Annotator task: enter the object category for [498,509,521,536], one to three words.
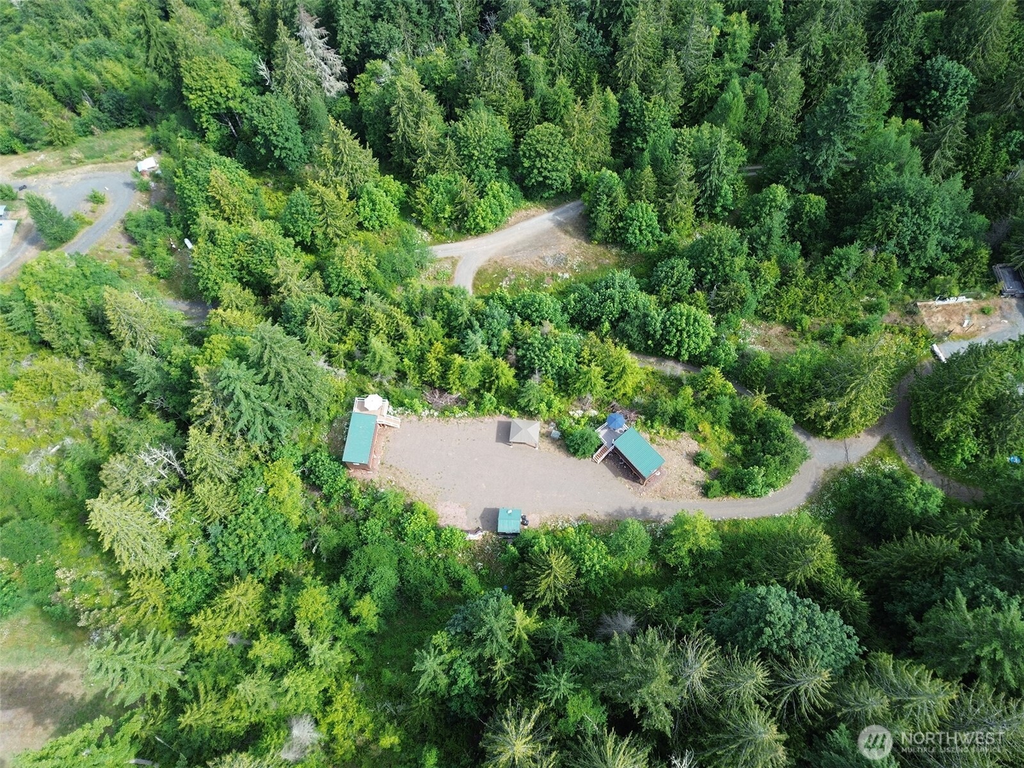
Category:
shed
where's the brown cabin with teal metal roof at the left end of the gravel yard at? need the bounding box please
[340,412,382,472]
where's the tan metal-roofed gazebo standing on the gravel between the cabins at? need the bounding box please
[509,420,540,450]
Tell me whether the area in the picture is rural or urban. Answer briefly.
rural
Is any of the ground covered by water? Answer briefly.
No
